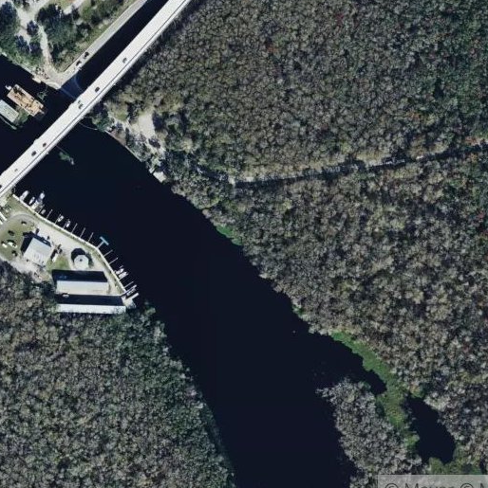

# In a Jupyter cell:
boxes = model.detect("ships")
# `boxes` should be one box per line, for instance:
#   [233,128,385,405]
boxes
[0,100,19,122]
[9,86,43,117]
